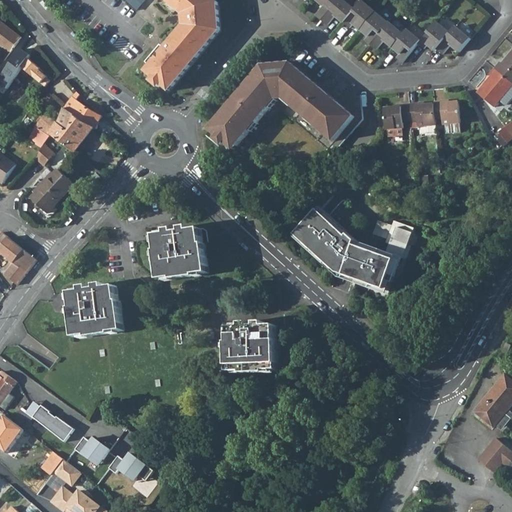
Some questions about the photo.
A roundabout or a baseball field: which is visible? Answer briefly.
roundabout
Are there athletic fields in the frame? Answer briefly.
No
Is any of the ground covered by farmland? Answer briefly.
No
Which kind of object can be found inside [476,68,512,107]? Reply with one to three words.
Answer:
house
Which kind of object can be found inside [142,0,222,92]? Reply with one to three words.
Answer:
building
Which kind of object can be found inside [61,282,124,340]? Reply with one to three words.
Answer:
building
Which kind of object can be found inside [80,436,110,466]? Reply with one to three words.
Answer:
house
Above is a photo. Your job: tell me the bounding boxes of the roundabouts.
[133,110,196,176]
